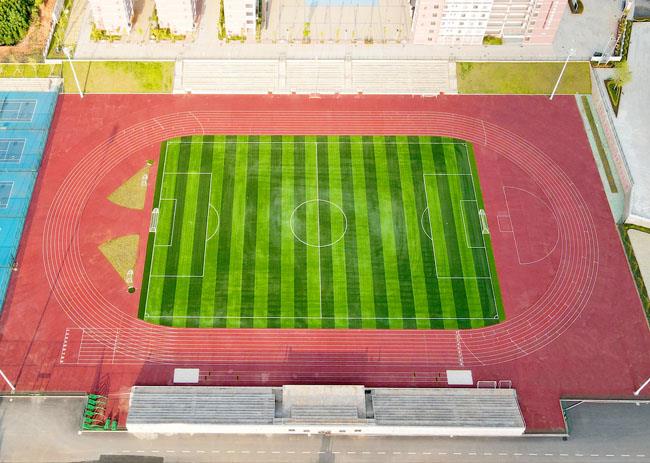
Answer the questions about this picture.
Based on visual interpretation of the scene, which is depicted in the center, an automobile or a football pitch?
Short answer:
football pitch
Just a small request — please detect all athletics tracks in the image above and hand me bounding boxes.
[0,93,650,434]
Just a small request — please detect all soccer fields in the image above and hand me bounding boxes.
[138,135,506,330]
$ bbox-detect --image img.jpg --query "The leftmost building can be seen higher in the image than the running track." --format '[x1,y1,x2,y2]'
[83,0,136,34]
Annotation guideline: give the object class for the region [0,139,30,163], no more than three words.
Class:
tennis court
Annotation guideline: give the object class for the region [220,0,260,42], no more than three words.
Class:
building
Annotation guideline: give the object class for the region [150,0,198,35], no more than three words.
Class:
building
